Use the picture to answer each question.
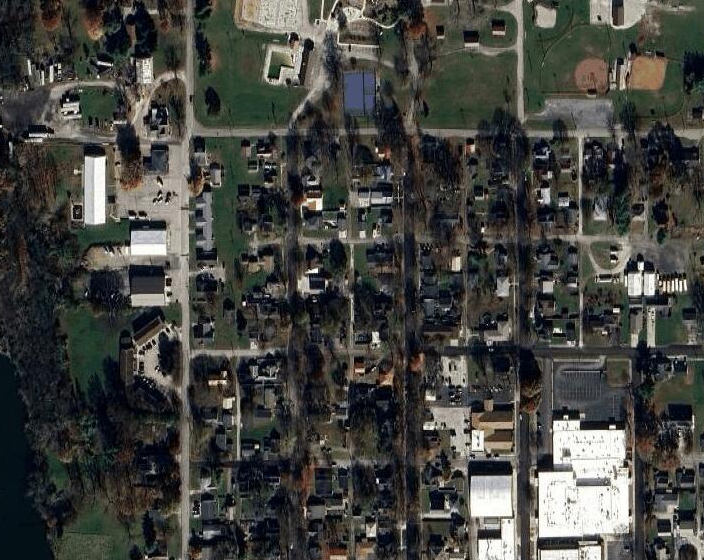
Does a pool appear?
Yes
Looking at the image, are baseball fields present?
Yes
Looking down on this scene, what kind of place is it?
residential area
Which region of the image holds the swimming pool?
top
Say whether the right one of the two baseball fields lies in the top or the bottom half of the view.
top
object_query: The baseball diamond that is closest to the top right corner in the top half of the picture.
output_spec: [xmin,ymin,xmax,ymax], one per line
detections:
[628,53,690,90]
